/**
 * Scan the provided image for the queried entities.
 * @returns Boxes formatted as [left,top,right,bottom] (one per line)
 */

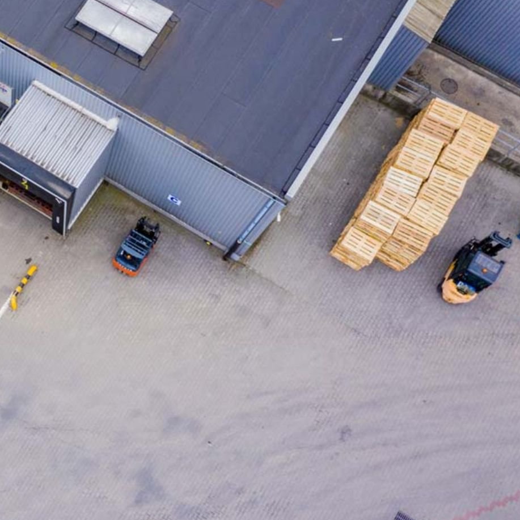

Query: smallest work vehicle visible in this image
[114,214,163,275]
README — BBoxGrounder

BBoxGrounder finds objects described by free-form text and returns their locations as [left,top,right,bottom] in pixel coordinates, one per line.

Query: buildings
[432,0,520,91]
[0,0,417,262]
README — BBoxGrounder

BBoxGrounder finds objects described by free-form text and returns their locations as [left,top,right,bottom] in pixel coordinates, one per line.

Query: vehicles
[434,231,514,308]
[114,214,163,275]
